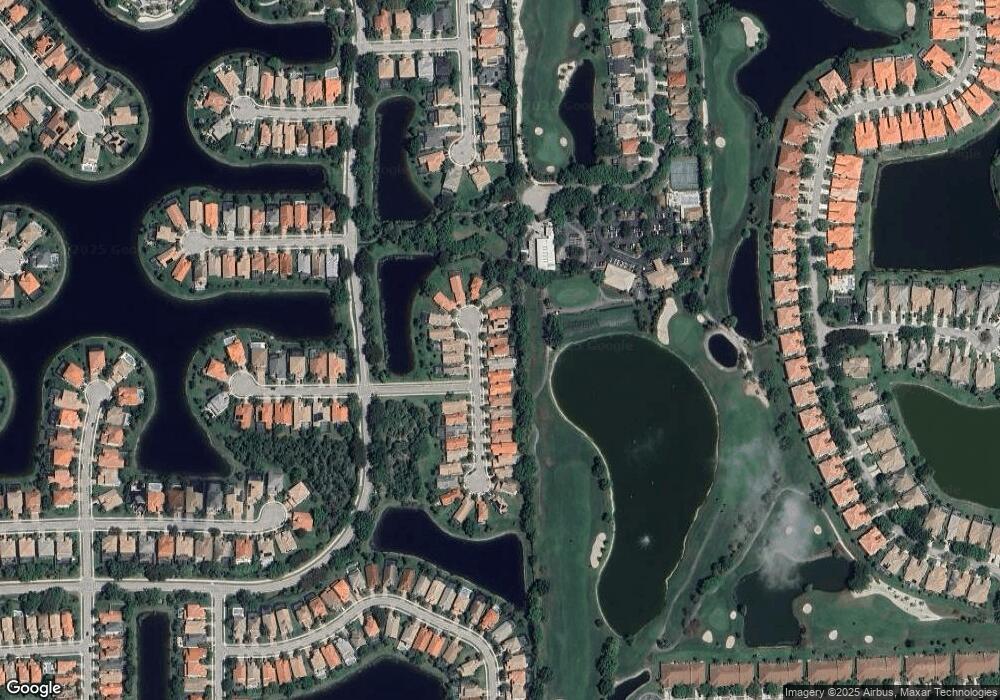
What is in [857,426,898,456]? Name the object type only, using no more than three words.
house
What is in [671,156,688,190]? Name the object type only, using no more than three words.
tennis court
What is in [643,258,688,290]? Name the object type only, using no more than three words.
building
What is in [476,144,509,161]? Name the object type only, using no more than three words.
house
